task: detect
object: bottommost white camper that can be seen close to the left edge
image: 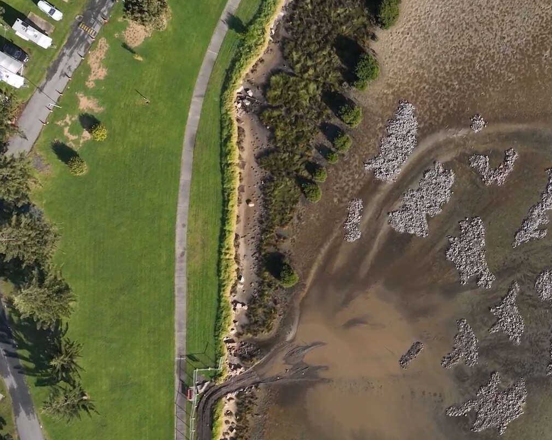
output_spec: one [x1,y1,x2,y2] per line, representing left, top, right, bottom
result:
[0,51,34,90]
